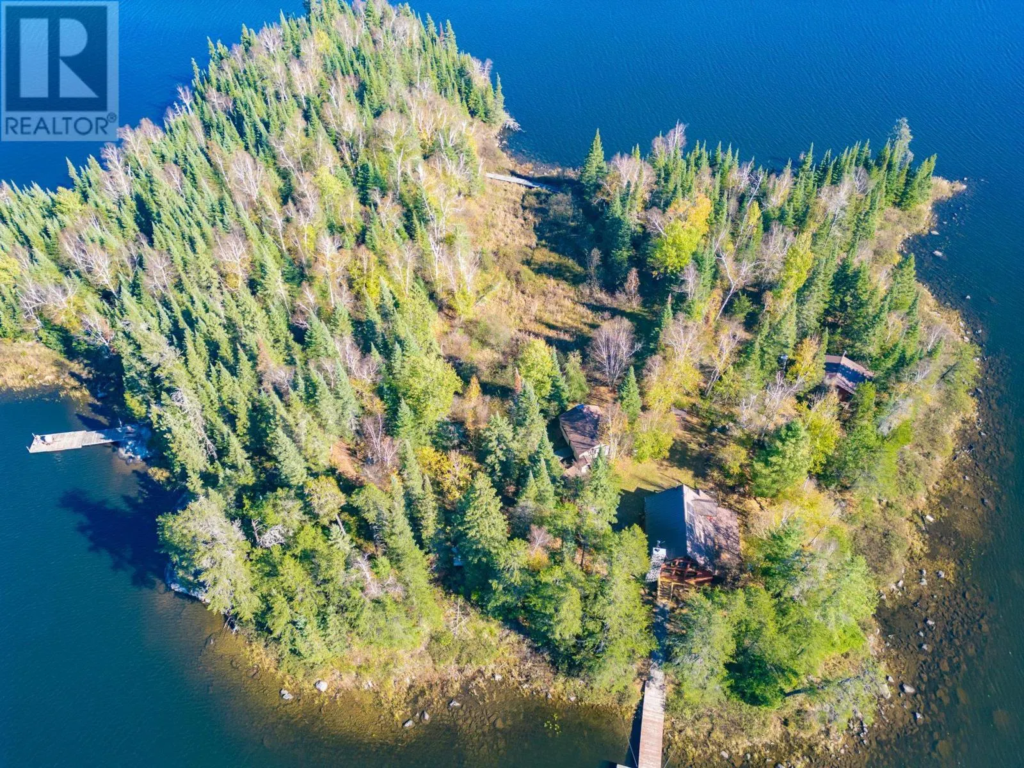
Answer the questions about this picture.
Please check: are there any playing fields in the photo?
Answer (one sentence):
No, I find no playing field anywhere in the image.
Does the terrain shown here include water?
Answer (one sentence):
Yes, water shows up in the scene.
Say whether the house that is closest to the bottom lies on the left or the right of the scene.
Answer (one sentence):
It is on the right.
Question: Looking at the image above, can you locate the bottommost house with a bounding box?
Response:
[645,482,743,616]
